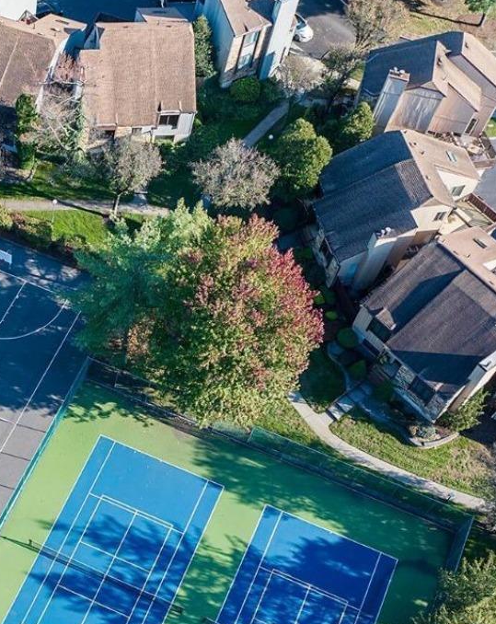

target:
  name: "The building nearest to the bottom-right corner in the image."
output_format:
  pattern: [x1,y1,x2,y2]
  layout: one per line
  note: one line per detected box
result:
[353,229,496,421]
